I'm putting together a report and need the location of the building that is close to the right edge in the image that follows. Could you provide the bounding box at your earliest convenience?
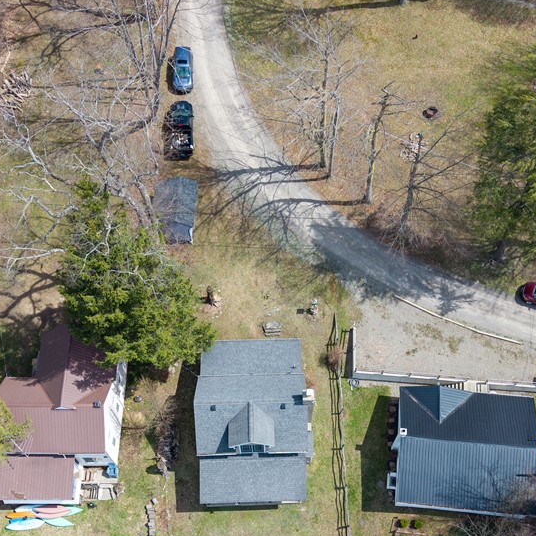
[385,384,536,519]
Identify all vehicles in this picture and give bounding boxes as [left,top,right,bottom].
[519,279,536,304]
[167,44,192,86]
[165,102,192,157]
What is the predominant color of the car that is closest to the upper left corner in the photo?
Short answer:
blue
